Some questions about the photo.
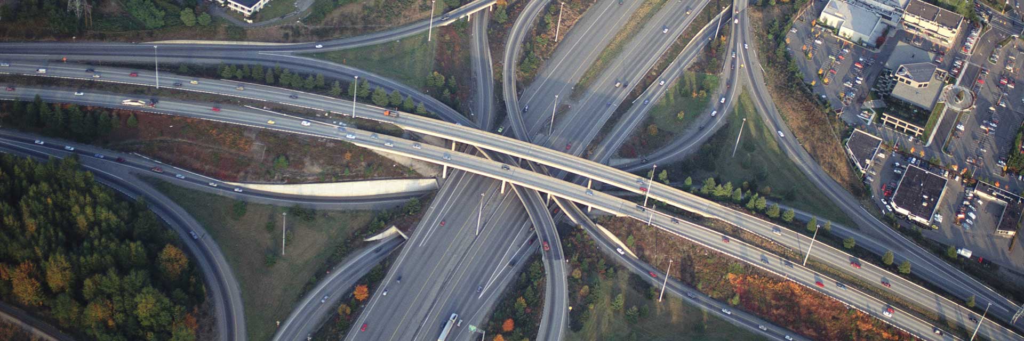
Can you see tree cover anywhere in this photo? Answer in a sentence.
Yes, there's tree cover in this view.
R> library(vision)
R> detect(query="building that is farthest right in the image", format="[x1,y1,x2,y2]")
[973,180,1024,236]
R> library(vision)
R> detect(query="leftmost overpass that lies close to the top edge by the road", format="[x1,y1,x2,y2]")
[432,0,500,26]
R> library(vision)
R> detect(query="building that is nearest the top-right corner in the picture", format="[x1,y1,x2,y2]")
[897,0,963,50]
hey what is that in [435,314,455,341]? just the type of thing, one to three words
vehicle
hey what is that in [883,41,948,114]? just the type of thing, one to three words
building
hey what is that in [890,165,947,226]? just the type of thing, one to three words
building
